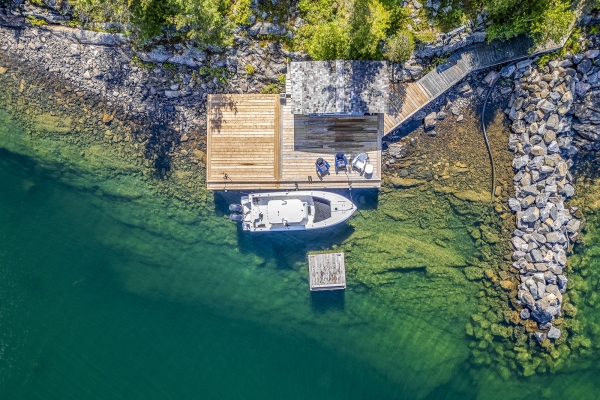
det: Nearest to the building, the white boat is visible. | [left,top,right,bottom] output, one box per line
[229,190,360,231]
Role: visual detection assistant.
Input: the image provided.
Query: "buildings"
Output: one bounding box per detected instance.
[289,57,389,119]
